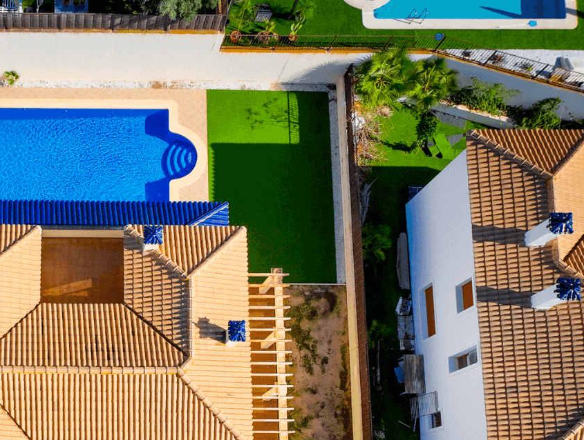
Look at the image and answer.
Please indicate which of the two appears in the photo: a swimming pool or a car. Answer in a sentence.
Of the two, only a swimming pool appears.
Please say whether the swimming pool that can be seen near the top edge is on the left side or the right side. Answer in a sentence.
The swimming pool that can be seen near the top edge sits on the right side.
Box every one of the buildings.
[0,198,256,440]
[411,128,584,440]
